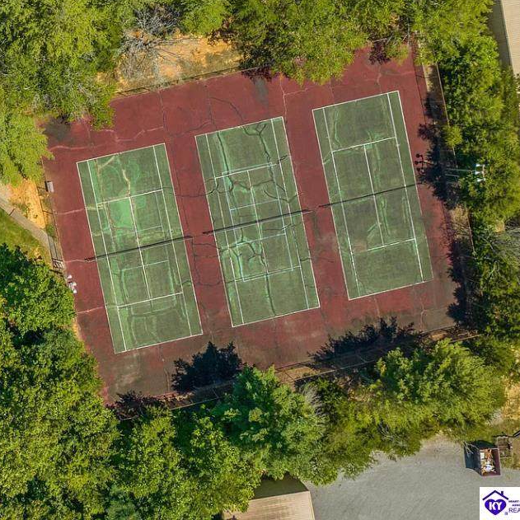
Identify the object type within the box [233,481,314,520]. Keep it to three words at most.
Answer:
shed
